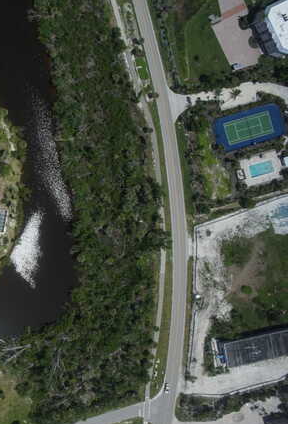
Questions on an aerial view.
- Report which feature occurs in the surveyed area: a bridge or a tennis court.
tennis court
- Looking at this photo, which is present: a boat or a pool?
pool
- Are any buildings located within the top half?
Yes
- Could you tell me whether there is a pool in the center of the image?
No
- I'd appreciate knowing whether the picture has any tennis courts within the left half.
No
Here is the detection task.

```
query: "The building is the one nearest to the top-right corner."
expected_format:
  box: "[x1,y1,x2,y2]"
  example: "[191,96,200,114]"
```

[246,0,288,66]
